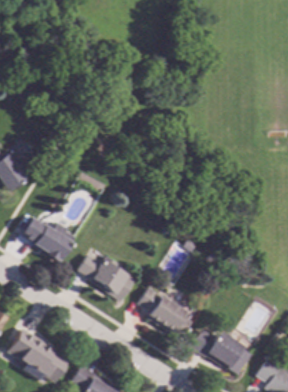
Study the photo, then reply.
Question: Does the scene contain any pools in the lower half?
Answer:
Yes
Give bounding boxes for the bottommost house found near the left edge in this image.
[8,330,70,382]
